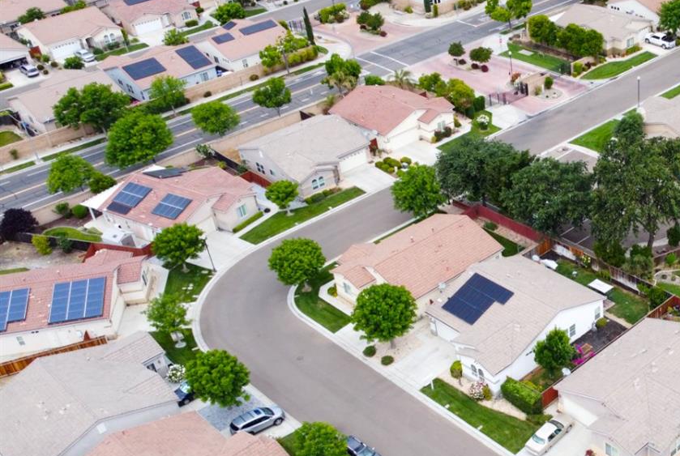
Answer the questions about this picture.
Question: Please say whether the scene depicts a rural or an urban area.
urban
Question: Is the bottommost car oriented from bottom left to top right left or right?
right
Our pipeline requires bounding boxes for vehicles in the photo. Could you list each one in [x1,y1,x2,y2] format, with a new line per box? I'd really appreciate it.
[225,408,285,436]
[74,46,94,59]
[343,430,380,456]
[659,34,679,49]
[523,414,573,456]
[176,380,198,410]
[14,58,40,76]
